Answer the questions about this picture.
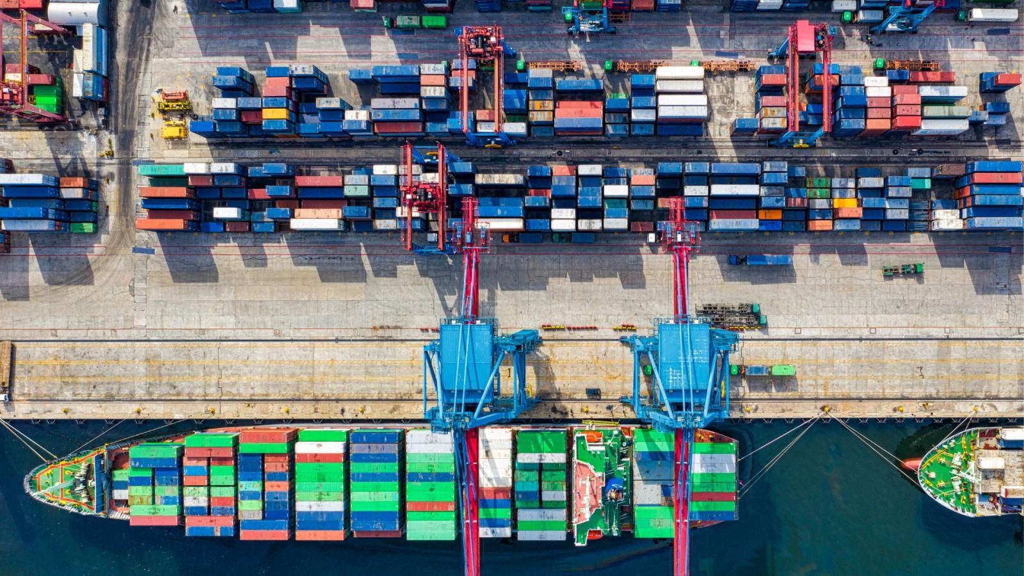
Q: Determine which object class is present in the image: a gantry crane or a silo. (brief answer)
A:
gantry crane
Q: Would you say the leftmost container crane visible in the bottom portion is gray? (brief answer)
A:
No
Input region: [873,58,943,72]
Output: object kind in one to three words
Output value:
vehicle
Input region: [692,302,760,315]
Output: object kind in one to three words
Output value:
vehicle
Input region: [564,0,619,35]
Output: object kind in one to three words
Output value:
container crane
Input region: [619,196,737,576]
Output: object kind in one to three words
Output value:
container crane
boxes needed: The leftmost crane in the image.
[0,2,81,133]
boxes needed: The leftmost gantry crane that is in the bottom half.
[419,197,547,576]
